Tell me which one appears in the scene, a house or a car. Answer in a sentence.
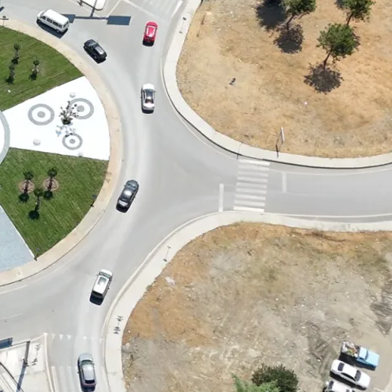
The one in the frame is a car.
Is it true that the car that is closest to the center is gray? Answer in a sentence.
Yes, the car that is closest to the center is indeed gray.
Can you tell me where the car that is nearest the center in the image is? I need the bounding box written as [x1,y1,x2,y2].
[116,181,138,212]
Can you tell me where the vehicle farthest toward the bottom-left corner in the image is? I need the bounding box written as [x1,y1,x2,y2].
[78,354,97,392]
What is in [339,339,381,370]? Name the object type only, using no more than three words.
vehicle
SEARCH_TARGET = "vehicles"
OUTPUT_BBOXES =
[321,376,358,392]
[339,339,381,370]
[140,85,157,112]
[35,9,73,36]
[142,23,158,46]
[329,359,372,390]
[78,354,97,392]
[116,181,138,212]
[82,40,108,61]
[89,269,112,304]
